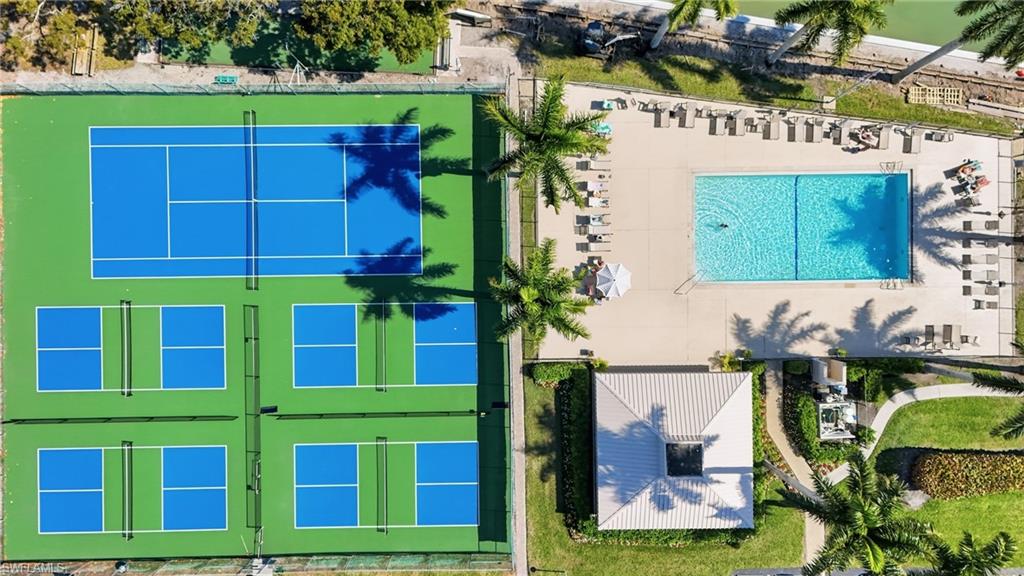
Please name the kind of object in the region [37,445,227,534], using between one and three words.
sports court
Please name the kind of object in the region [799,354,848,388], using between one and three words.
shed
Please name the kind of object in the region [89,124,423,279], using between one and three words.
tennis court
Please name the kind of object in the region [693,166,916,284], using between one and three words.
swimming pool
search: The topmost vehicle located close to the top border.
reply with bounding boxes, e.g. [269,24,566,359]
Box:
[578,22,642,56]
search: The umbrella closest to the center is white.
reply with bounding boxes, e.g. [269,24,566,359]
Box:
[598,263,630,296]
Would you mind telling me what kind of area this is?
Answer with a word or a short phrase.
sports ground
